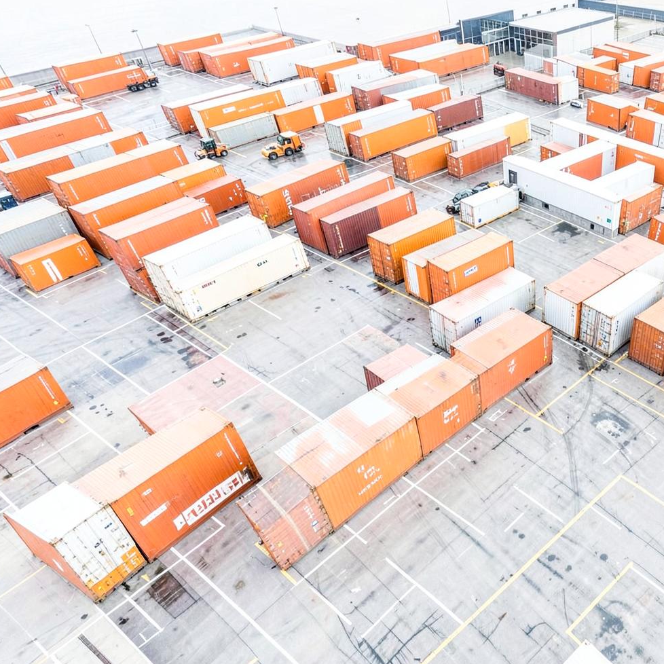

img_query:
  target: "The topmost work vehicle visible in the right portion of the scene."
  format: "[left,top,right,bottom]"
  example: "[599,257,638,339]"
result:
[492,62,508,74]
